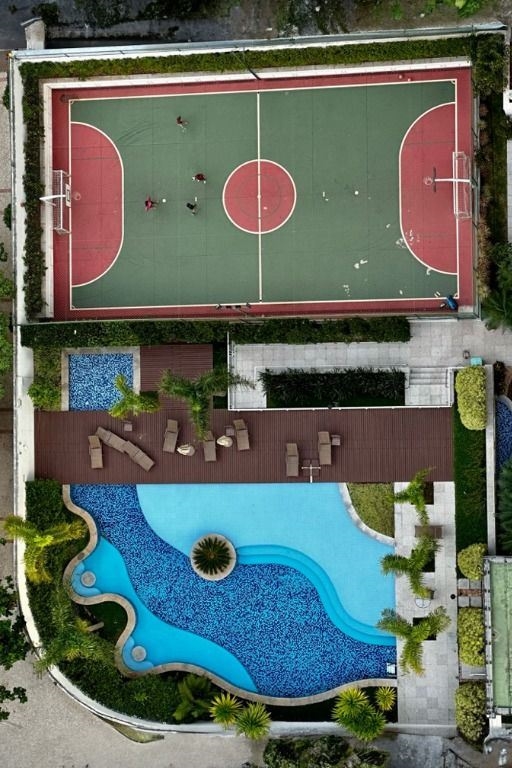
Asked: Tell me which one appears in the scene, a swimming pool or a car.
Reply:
swimming pool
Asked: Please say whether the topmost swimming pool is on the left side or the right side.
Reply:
left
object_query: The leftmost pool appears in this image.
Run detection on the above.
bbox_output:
[62,348,141,410]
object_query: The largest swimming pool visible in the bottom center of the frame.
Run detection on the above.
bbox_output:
[63,482,403,706]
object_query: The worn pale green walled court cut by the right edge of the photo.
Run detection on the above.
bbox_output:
[487,555,512,716]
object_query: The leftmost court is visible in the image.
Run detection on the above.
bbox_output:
[52,68,475,322]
